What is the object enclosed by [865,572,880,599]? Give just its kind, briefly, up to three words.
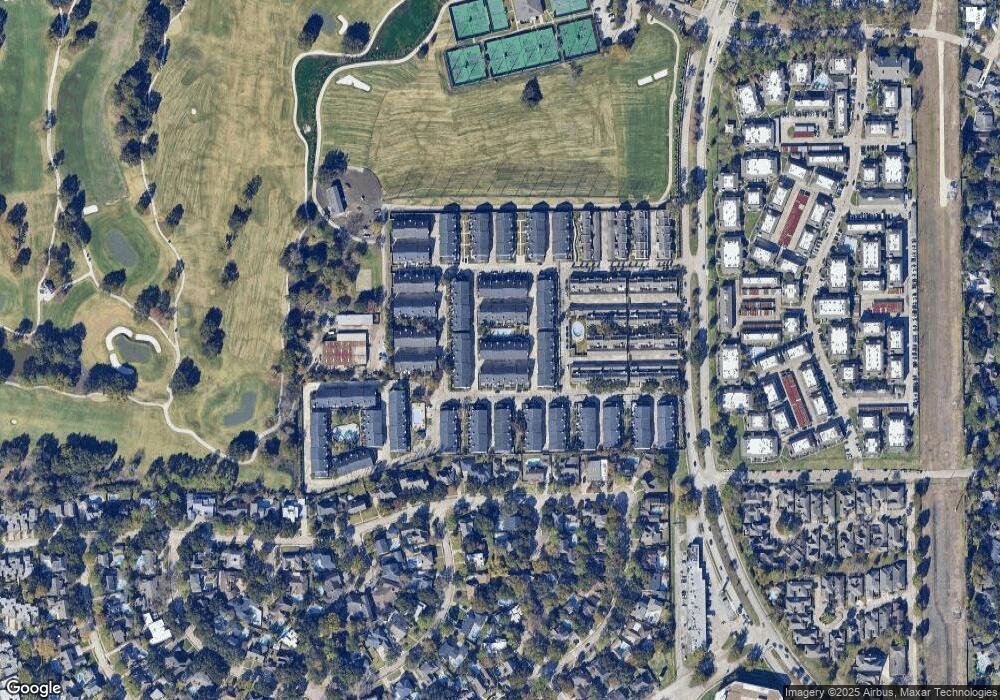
house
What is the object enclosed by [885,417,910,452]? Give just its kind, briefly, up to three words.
building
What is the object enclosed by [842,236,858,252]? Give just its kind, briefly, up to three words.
swimming pool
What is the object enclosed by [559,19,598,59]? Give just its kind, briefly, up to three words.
tennis court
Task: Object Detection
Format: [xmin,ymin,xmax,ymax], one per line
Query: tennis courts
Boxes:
[447,44,488,85]
[553,0,590,17]
[559,19,598,59]
[451,0,491,39]
[485,0,511,29]
[486,28,560,76]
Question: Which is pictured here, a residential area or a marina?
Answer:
residential area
